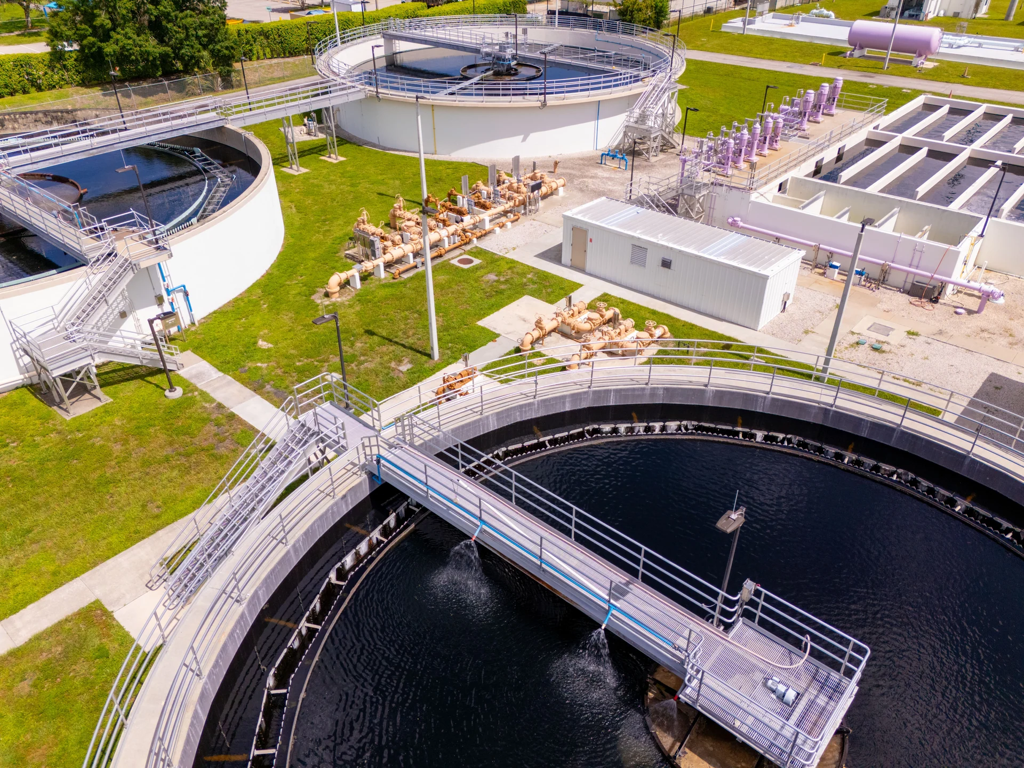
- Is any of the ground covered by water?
Yes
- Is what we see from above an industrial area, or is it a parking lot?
industrial area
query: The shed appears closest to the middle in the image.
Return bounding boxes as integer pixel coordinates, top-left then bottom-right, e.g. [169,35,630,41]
[559,197,812,328]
